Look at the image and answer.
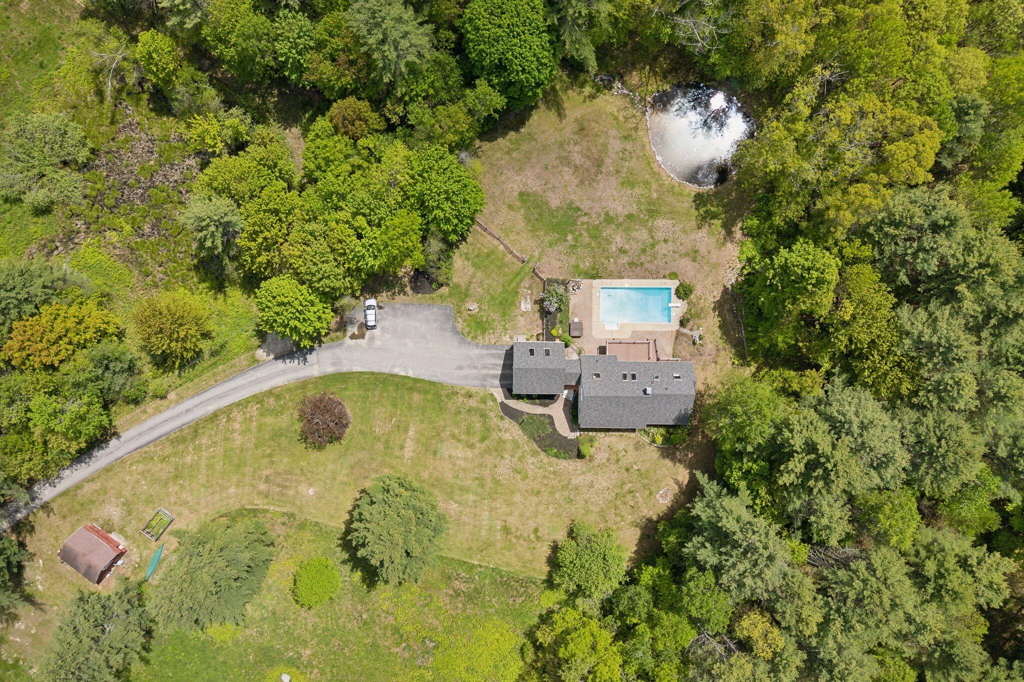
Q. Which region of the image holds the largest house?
center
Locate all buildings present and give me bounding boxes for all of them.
[58,521,129,590]
[512,341,694,428]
